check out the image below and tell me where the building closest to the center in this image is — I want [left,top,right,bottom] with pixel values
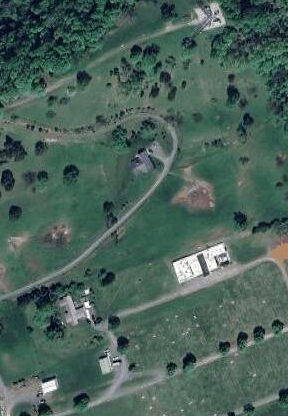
[132,149,155,174]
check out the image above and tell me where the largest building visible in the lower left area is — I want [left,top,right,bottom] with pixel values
[58,297,89,325]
